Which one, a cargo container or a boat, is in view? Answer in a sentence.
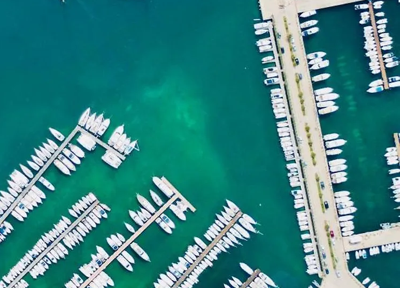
Of the two, only a boat appears.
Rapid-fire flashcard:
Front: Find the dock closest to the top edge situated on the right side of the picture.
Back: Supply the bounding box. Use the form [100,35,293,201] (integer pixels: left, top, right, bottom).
[368,0,389,89]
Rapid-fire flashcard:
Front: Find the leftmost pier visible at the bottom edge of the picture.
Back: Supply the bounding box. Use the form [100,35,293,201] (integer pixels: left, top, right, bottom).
[6,198,99,288]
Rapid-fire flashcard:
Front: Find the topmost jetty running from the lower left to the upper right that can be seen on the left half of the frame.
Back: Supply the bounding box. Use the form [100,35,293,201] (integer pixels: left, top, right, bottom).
[0,124,126,225]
